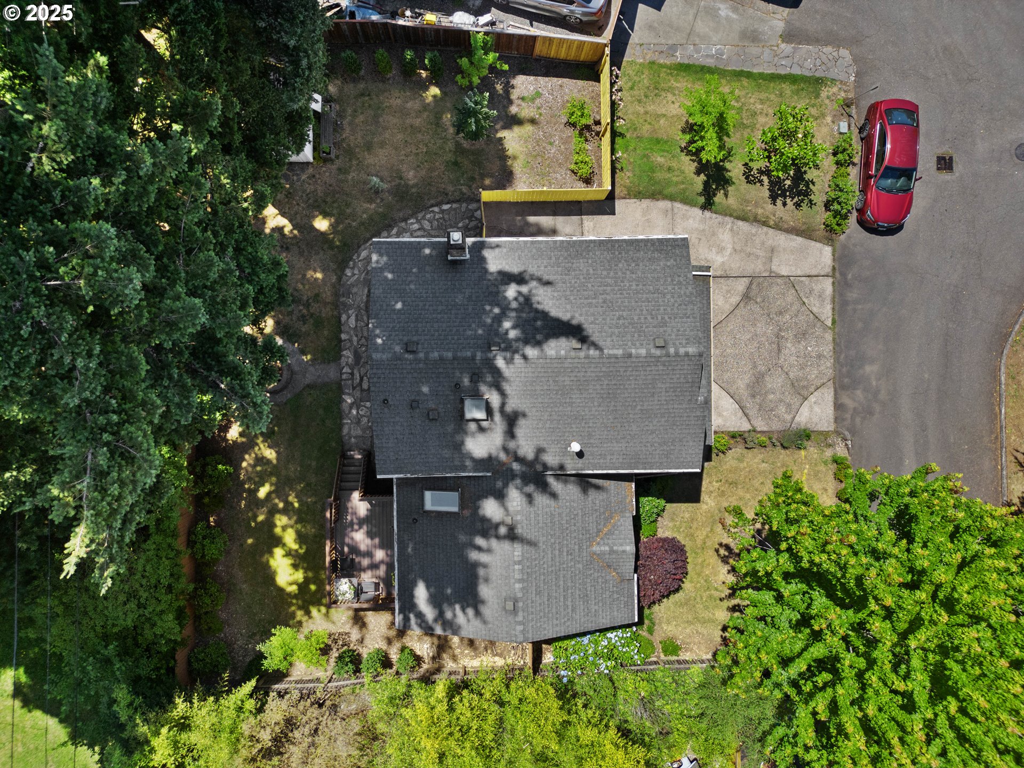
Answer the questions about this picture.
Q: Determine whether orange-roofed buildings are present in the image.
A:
No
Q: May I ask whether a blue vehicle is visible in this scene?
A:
No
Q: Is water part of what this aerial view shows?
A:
No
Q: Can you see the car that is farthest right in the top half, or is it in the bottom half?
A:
top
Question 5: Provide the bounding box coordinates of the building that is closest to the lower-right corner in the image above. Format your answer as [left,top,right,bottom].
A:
[368,226,715,643]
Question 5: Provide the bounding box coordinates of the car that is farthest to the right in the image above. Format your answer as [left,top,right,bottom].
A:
[852,95,922,229]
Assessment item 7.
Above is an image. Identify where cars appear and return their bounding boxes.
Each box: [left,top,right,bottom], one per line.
[852,95,922,229]
[490,0,606,27]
